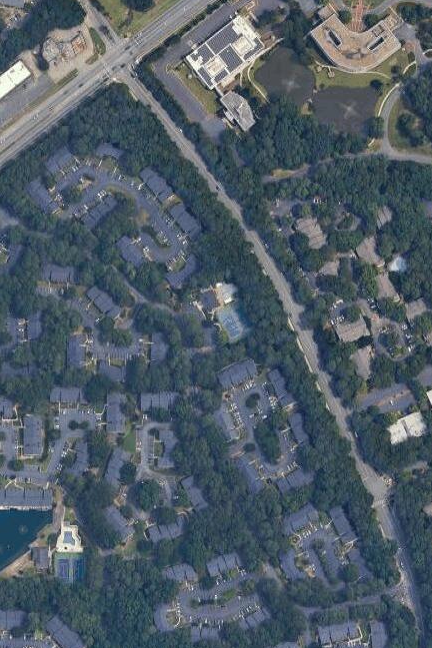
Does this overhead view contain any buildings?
Yes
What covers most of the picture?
trees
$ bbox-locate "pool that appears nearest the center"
[216,283,237,303]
